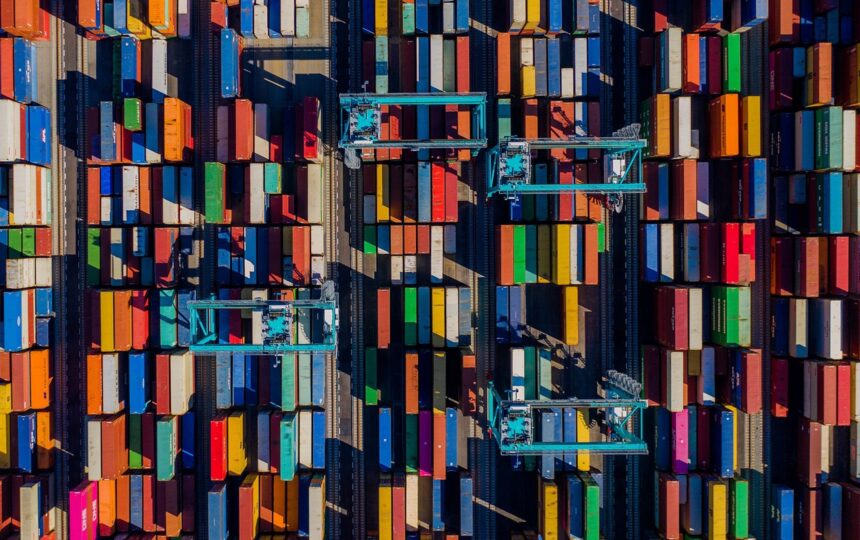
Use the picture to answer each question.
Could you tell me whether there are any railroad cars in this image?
No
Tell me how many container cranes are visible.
4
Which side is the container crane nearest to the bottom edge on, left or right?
right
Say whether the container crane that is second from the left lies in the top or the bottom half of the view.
top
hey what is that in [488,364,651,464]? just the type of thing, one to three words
container crane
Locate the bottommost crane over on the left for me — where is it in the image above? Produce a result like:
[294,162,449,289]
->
[186,277,345,364]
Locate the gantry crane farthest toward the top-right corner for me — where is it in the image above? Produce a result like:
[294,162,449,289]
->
[486,115,648,215]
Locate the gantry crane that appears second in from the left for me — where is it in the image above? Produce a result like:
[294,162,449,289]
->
[332,83,490,181]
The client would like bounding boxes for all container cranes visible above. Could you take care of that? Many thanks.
[332,83,490,181]
[186,277,345,364]
[488,364,651,464]
[486,115,648,215]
